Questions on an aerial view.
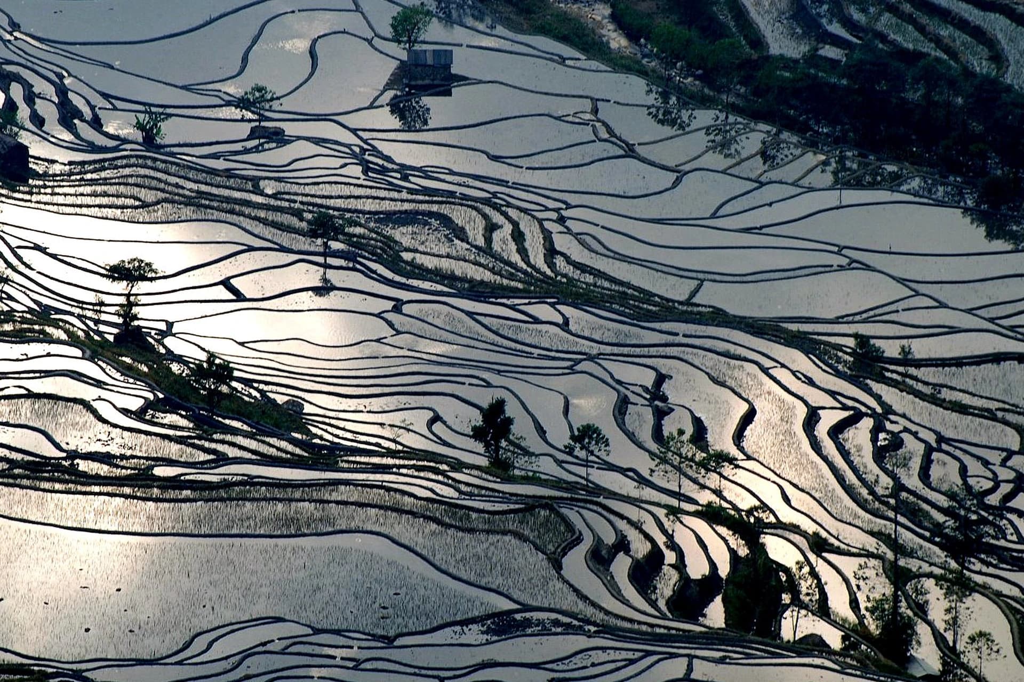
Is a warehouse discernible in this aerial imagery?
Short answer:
No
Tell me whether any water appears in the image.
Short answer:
Yes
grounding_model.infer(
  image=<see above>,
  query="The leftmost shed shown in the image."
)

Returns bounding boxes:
[406,46,453,85]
